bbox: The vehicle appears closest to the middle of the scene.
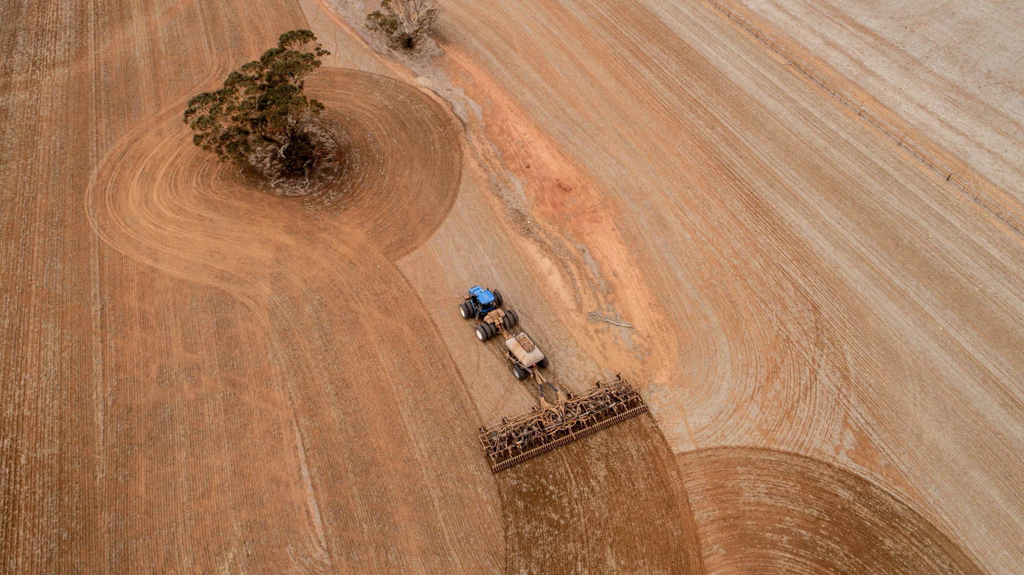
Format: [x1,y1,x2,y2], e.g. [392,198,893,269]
[458,286,522,343]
